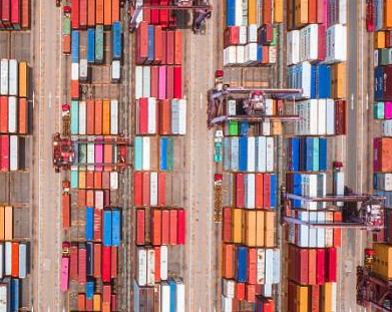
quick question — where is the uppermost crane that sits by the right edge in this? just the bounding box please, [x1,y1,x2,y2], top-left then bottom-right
[287,185,388,226]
